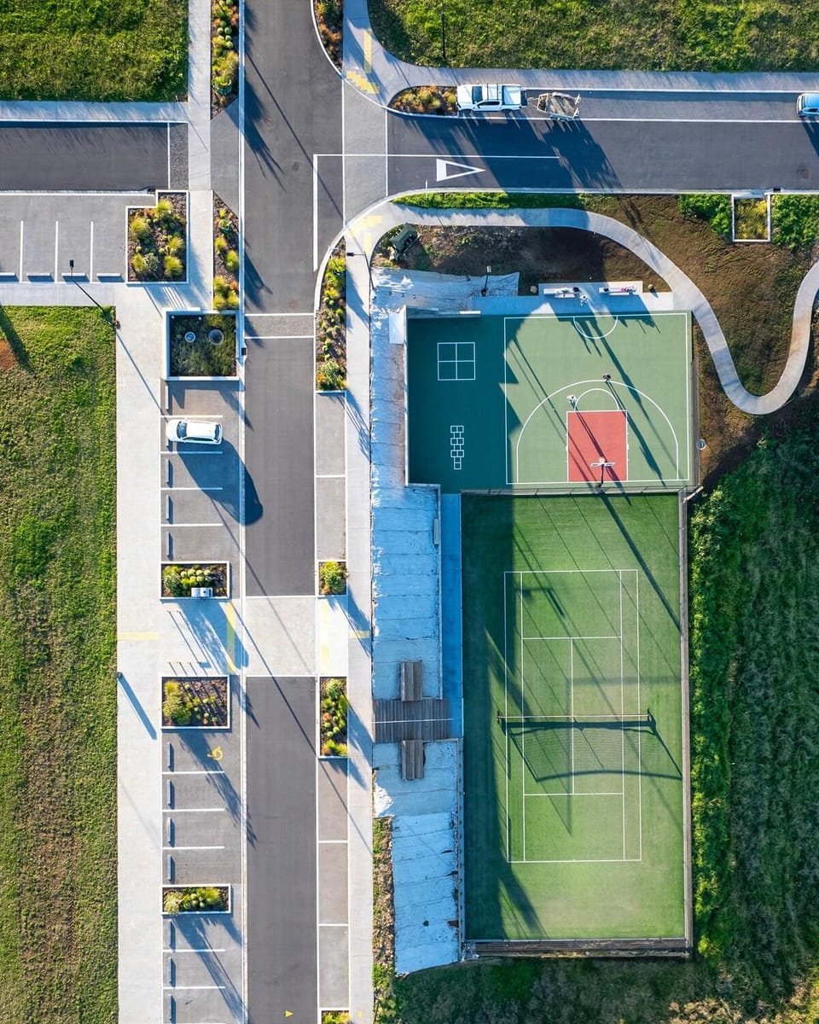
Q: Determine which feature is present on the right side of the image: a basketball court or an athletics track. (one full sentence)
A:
What appears on the right side of the image is a basketball court.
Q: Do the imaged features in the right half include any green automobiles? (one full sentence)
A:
No, there is no green automobile in the right half.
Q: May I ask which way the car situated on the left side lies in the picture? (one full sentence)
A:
In this picture, the car situated on the left side is oriented from side to side.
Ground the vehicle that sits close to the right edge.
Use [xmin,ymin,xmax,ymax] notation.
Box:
[799,84,819,112]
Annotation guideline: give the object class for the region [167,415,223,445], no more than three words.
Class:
car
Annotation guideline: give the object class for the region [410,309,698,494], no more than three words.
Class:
basketball court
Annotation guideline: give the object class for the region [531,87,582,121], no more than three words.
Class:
trailer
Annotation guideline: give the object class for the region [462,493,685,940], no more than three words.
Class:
tennis court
